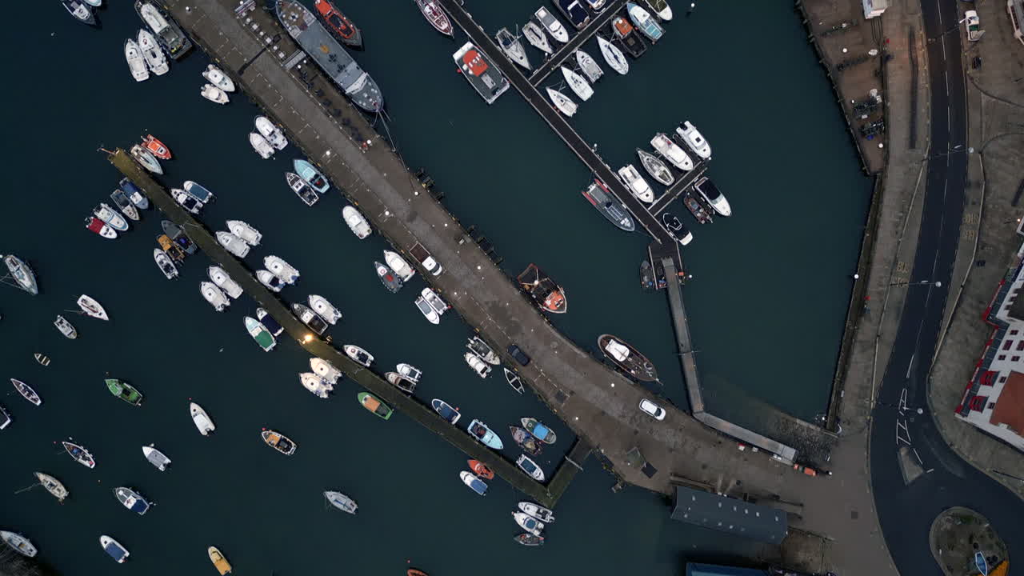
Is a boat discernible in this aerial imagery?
Yes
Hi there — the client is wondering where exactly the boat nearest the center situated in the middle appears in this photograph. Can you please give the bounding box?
[518,265,567,314]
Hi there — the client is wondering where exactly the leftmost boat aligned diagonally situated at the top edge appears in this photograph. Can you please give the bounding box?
[67,0,98,26]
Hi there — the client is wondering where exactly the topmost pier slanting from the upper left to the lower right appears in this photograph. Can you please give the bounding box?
[436,0,676,245]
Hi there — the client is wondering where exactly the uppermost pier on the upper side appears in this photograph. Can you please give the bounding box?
[530,0,633,90]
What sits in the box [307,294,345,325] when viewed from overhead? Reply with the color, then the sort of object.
white boat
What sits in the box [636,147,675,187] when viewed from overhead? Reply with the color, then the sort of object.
gray boat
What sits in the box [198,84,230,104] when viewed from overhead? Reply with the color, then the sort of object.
white boat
